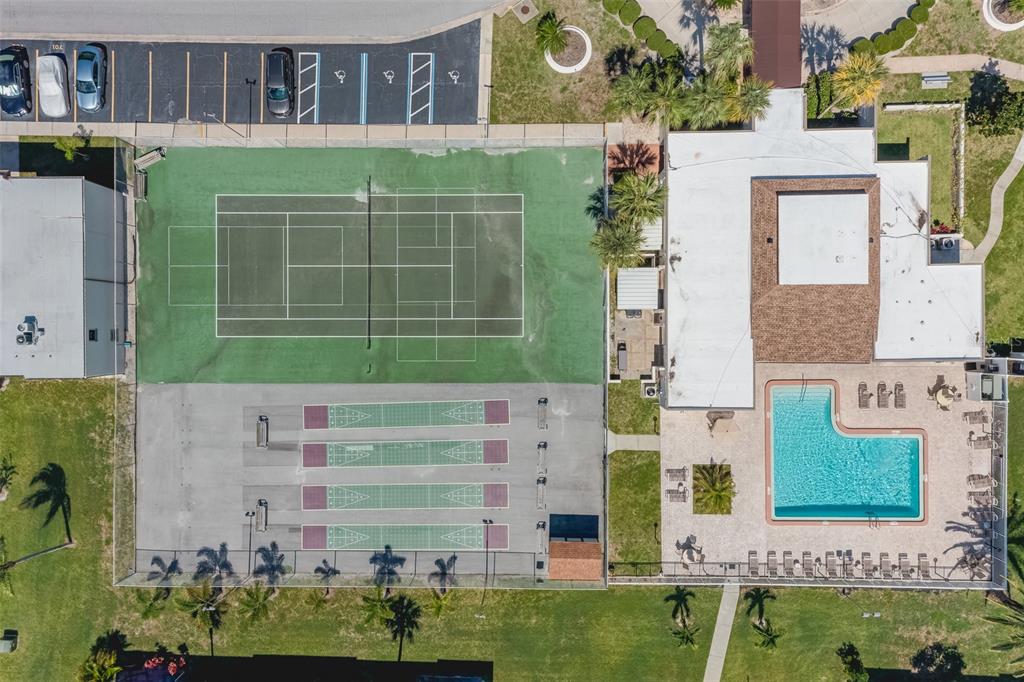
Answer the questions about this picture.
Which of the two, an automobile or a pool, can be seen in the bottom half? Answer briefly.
pool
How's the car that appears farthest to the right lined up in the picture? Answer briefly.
from top to bottom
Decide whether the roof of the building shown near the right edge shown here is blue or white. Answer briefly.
white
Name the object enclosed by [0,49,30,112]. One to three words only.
car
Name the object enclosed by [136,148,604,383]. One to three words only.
tennis court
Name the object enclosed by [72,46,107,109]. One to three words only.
car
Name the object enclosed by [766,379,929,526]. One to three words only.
swimming pool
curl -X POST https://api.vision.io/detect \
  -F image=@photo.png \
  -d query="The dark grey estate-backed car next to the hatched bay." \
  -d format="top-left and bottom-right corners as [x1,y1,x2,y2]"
[264,48,296,112]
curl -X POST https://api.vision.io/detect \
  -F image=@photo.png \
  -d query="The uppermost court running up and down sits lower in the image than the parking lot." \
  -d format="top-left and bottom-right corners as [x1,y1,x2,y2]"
[397,188,476,361]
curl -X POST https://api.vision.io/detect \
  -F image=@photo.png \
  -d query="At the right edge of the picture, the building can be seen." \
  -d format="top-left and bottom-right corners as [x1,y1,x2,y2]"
[660,88,983,408]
